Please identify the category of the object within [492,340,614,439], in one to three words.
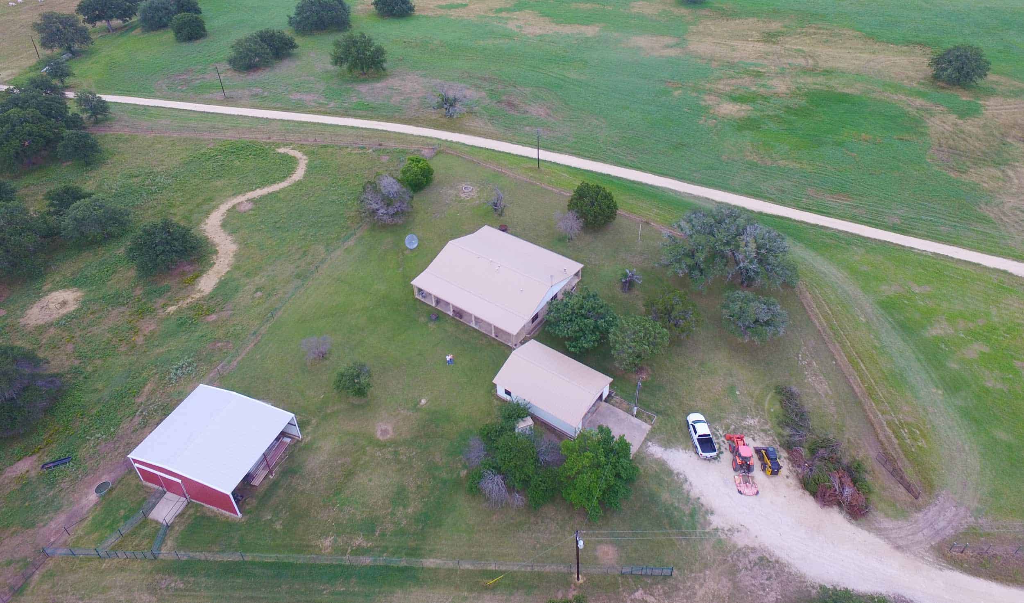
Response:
building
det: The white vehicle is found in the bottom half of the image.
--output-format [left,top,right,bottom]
[687,416,720,463]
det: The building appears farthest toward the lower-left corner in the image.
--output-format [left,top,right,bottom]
[128,383,301,518]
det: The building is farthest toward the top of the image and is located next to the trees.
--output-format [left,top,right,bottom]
[411,225,585,349]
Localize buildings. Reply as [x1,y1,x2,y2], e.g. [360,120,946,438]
[492,340,614,439]
[411,225,585,349]
[128,383,301,518]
